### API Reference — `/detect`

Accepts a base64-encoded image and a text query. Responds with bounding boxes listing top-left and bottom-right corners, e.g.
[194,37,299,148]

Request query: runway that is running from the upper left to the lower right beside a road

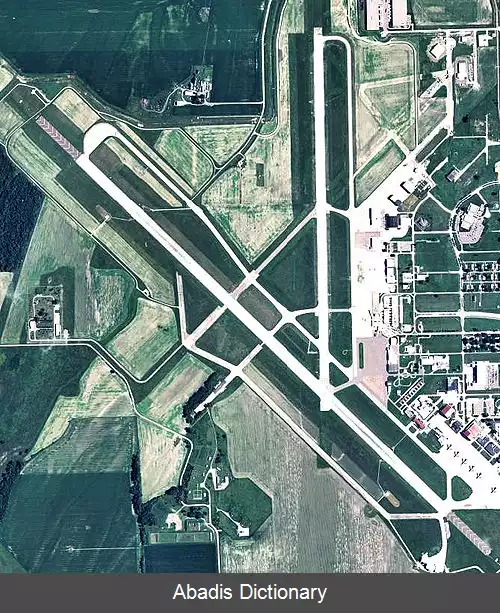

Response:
[35,115,493,559]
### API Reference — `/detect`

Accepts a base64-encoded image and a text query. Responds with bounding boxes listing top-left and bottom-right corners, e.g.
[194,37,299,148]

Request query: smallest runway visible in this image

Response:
[314,27,331,411]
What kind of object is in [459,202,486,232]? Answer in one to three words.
building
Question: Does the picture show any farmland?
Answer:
Yes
